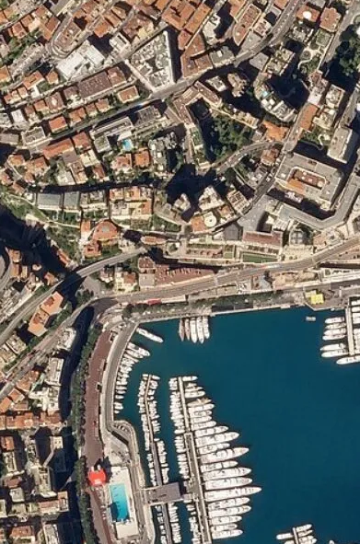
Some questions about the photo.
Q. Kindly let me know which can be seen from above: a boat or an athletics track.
boat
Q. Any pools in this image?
Yes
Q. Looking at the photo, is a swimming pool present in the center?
No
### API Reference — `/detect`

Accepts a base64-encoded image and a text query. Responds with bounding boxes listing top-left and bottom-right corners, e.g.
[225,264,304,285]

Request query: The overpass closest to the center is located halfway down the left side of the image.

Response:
[0,245,150,339]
